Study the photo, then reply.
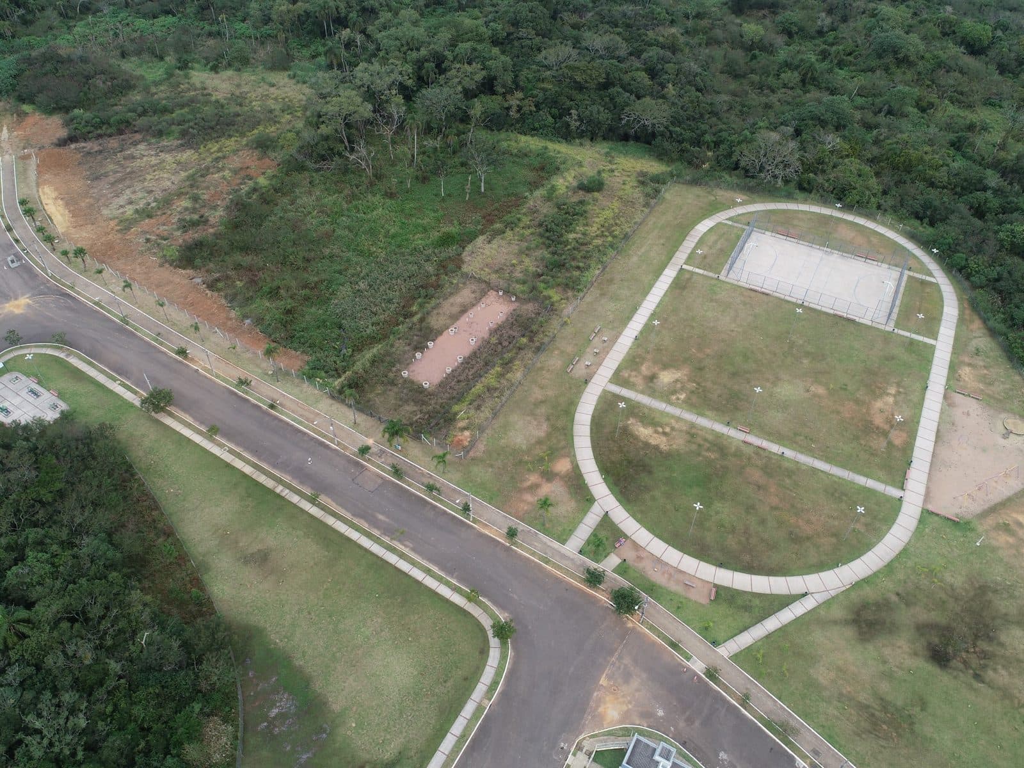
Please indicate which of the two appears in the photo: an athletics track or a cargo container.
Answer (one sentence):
I can see an athletics track in this picture.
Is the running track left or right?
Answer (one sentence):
You can find the running track on the right side of the picture.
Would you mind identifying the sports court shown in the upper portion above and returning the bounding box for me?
[722,232,908,326]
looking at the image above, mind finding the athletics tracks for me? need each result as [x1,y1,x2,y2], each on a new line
[573,202,959,594]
